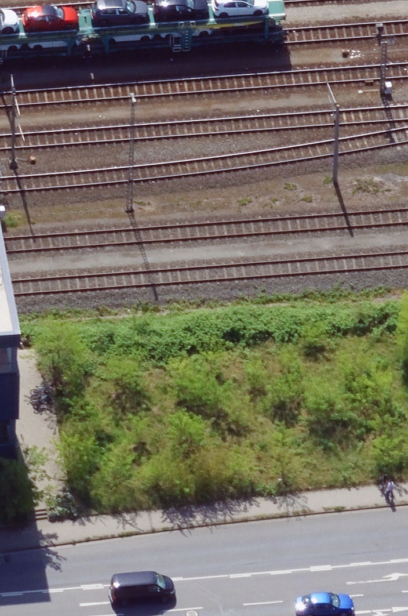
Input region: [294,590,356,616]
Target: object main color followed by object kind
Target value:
blue car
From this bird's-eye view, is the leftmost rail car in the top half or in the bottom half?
top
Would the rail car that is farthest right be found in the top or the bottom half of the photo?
top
